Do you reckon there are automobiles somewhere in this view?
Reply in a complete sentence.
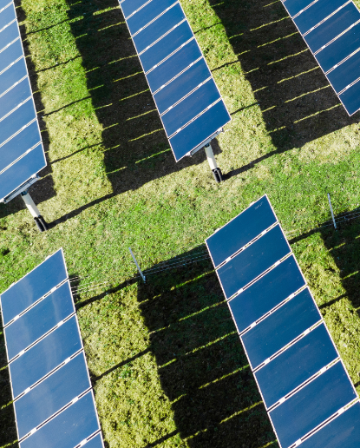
No, the picture doesn't show any automobile.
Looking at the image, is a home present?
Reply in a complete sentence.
No, I find no home anywhere in the image.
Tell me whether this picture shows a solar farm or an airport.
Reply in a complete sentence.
It's a solar farm.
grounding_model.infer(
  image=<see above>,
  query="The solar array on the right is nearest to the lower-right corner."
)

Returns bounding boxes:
[206,194,360,448]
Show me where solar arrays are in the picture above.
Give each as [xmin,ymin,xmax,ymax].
[119,0,232,188]
[0,248,104,448]
[206,194,360,448]
[0,0,50,235]
[282,0,360,116]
